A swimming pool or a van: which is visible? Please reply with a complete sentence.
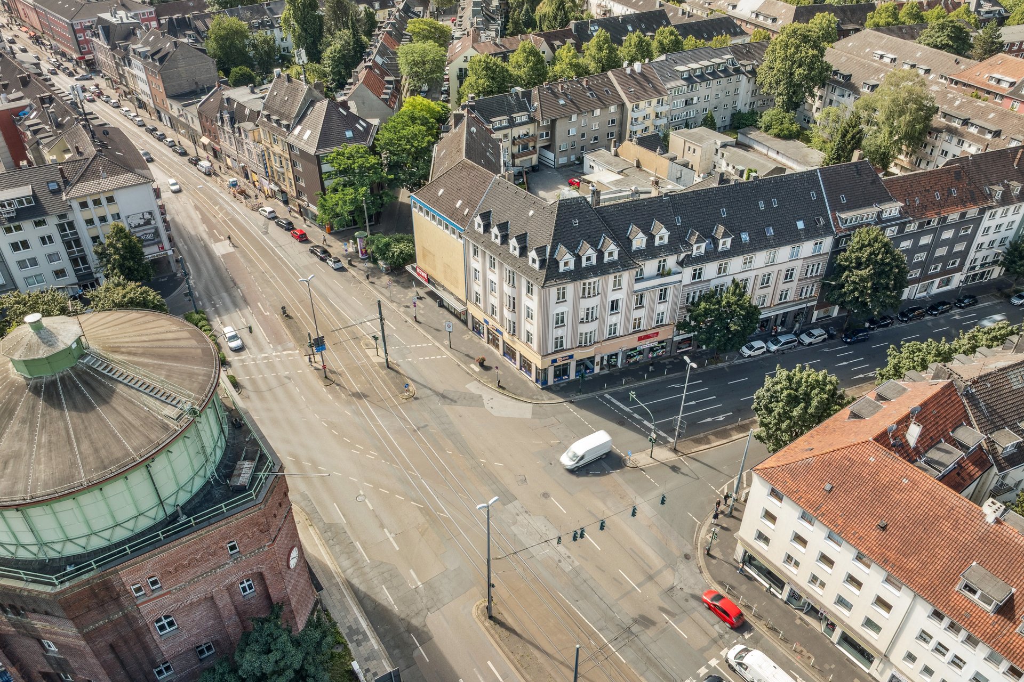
This aerial view contains a van.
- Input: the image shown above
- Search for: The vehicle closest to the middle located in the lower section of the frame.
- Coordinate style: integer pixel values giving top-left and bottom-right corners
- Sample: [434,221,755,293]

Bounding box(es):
[560,420,618,469]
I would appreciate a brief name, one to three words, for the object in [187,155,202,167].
vehicle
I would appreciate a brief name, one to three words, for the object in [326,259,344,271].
vehicle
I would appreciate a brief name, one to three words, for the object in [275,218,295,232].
car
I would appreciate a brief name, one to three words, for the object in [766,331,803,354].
car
